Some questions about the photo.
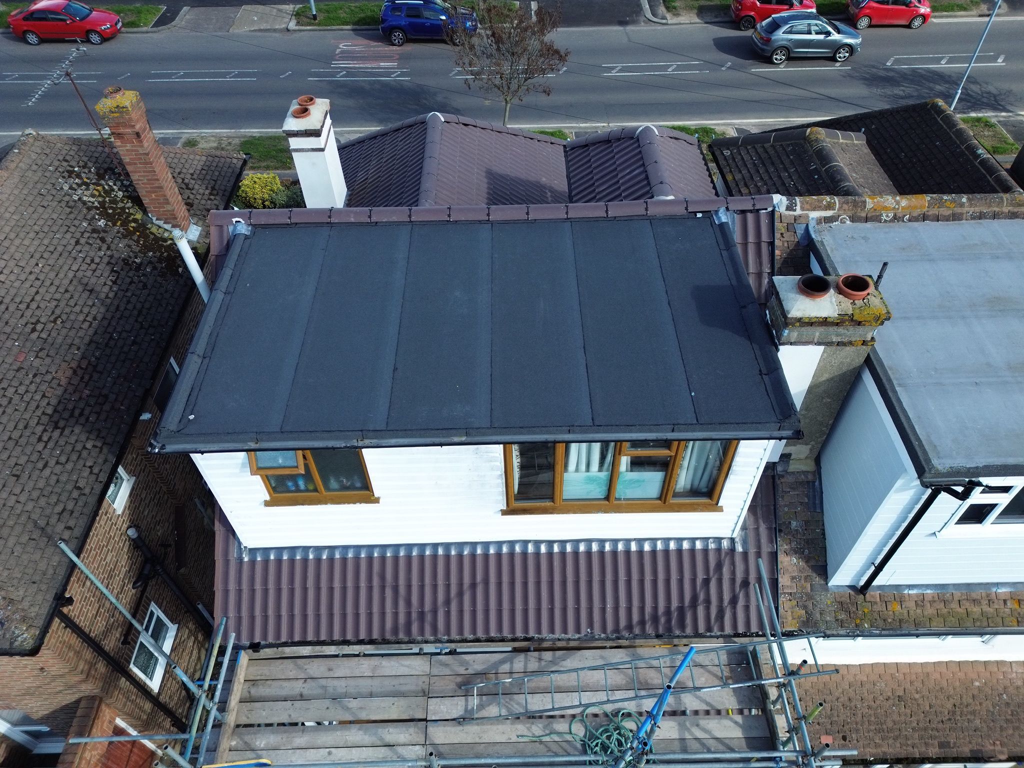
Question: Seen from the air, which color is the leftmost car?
red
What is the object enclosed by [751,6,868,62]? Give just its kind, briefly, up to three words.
car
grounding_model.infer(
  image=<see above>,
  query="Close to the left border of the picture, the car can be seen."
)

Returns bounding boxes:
[6,0,125,45]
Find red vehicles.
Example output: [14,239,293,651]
[728,0,820,29]
[844,0,933,29]
[6,0,125,45]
